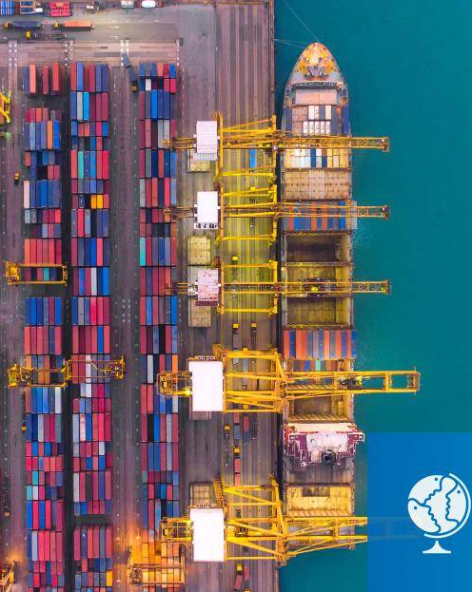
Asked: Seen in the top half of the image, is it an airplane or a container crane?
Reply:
container crane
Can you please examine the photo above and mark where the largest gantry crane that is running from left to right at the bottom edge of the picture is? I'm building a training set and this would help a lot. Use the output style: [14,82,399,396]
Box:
[156,479,424,569]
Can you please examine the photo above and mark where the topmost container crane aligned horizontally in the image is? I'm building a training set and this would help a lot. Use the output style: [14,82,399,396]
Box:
[156,114,389,182]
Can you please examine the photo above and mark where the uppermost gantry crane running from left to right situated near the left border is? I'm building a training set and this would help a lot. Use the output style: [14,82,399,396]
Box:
[6,262,73,289]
